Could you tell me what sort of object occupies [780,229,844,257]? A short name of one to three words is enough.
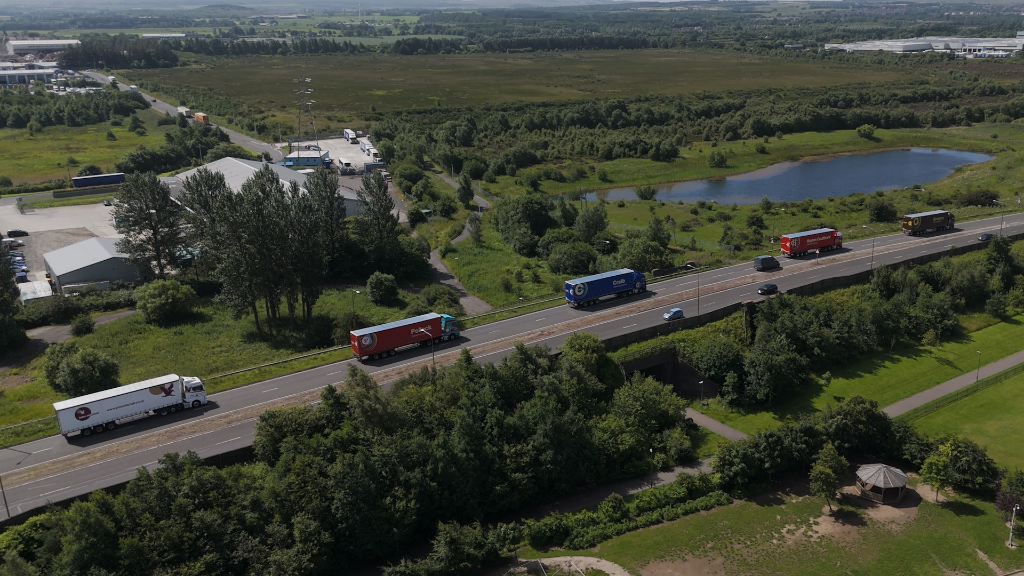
truck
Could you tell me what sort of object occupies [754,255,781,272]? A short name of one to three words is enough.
vehicle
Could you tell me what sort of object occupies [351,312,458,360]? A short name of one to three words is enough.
truck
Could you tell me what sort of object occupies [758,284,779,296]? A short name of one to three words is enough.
vehicle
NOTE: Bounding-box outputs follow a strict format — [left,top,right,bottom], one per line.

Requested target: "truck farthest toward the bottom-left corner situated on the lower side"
[53,375,206,438]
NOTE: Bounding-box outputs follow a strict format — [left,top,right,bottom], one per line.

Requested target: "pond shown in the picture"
[570,149,989,203]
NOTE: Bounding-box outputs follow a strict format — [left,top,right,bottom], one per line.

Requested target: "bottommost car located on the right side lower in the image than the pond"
[662,307,686,321]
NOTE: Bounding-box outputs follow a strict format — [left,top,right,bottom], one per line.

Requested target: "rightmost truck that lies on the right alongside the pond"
[901,210,958,235]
